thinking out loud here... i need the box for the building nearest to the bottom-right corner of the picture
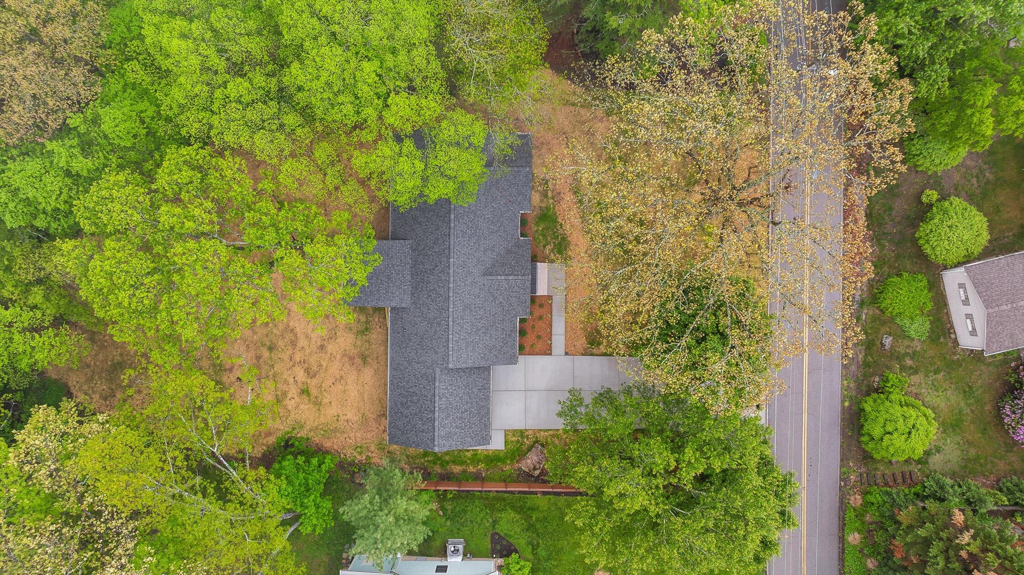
[941,249,1024,357]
